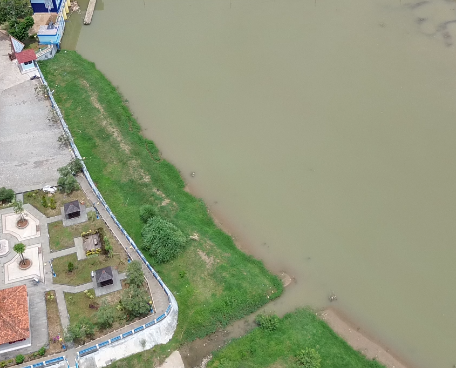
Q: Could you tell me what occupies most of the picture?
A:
water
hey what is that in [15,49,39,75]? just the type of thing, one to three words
building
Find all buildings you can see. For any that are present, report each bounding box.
[15,49,39,75]
[33,16,67,56]
[29,0,64,14]
[62,198,82,222]
[0,283,34,359]
[93,264,116,292]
